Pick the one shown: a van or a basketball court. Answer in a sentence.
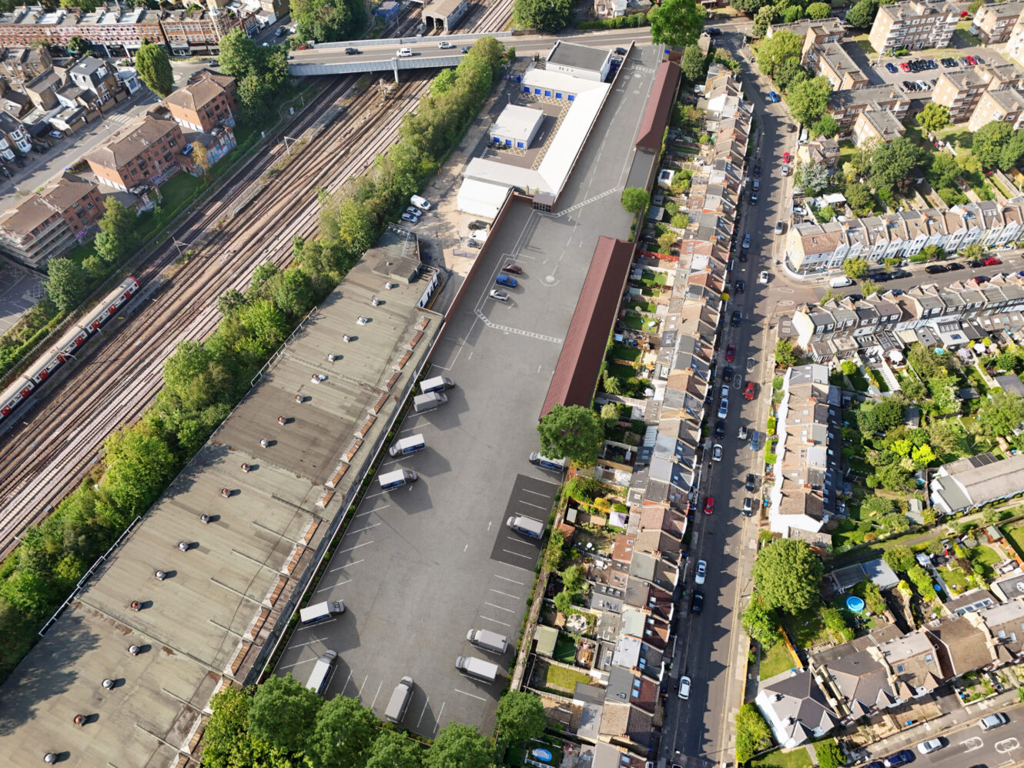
Of the two, only a van appears.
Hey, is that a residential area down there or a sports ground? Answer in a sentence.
It's a residential area.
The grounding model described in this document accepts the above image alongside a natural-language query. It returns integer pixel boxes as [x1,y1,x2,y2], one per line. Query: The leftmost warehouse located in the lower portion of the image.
[0,221,446,768]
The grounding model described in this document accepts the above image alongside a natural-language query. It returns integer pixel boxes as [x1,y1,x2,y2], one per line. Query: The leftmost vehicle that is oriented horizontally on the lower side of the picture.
[302,601,343,623]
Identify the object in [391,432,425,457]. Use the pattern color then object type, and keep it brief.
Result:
white vehicle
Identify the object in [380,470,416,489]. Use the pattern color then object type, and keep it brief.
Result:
white vehicle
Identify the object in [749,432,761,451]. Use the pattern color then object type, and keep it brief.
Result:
blue vehicle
